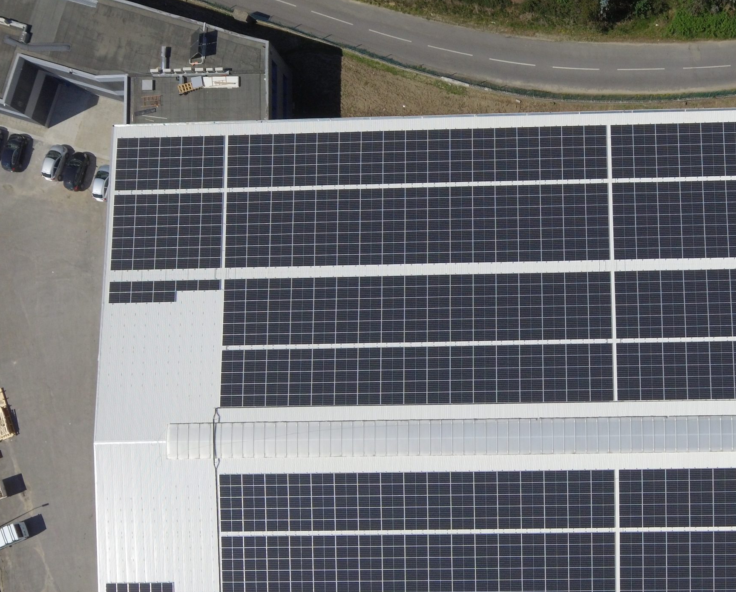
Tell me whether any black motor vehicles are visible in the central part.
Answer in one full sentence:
No, no black motor vehicle is visible in the central part.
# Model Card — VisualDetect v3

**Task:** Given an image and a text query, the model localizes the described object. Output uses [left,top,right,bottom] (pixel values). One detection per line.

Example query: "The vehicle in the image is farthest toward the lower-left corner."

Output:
[0,523,30,549]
